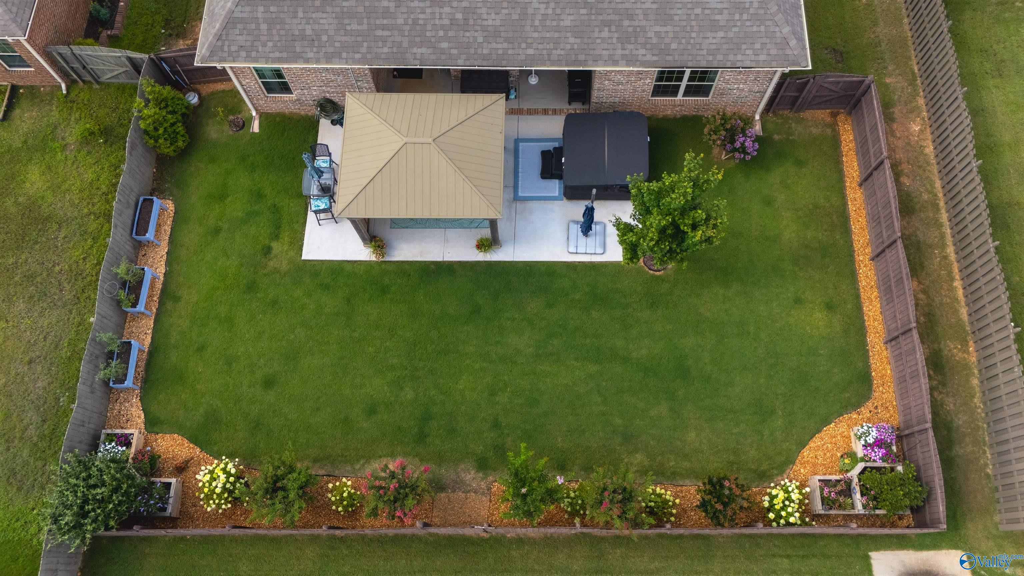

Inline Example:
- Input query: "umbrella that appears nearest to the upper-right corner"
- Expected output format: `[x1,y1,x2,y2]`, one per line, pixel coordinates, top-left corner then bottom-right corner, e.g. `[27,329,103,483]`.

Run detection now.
[568,187,606,253]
